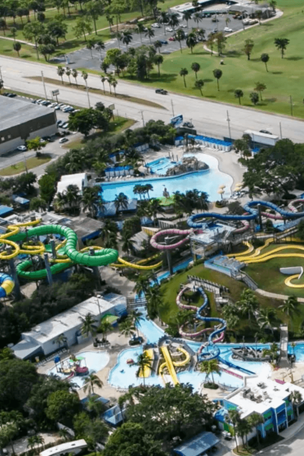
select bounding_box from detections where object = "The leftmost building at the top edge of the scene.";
[170,1,198,20]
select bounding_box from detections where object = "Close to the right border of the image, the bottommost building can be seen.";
[223,375,304,442]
